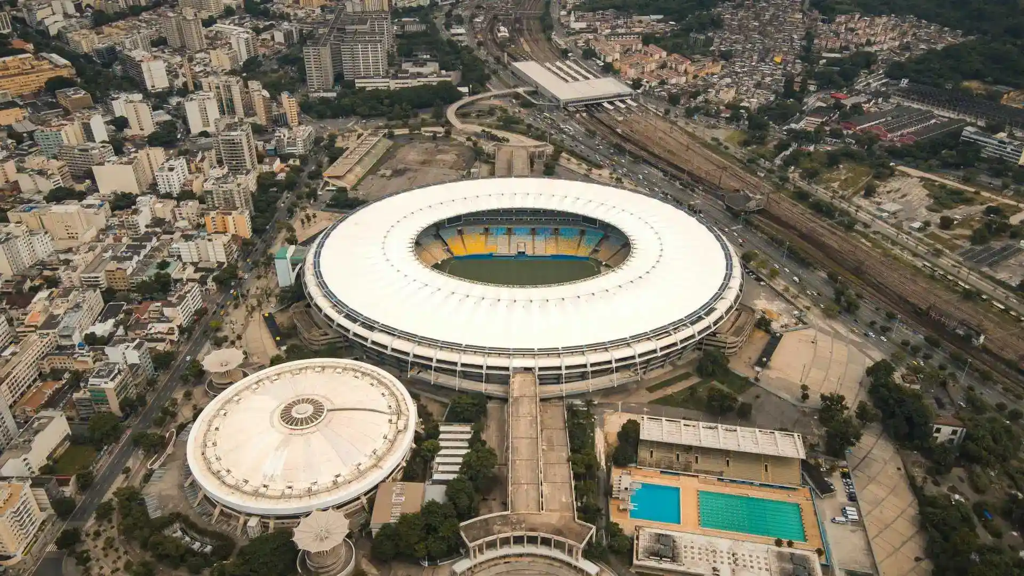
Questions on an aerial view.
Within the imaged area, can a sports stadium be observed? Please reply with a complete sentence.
Yes, there's a sports stadium here.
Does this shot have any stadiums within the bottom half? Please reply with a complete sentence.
Yes, I can see a stadium within the bottom half.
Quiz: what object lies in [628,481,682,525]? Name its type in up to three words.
swimming pool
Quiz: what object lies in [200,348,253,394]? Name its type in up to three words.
building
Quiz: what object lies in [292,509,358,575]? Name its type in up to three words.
building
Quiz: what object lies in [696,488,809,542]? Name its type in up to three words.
swimming pool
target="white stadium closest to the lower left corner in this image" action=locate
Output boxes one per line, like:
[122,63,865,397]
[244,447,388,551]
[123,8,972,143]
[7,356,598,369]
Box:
[186,359,420,534]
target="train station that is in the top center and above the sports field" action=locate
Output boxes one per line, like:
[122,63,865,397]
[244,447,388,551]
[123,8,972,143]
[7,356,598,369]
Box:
[512,61,634,110]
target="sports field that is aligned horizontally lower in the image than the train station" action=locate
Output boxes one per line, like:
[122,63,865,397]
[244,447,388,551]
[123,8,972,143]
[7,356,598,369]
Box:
[443,259,601,287]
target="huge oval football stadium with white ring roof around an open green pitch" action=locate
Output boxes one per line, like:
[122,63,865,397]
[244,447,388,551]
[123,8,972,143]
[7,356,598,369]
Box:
[297,175,749,398]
